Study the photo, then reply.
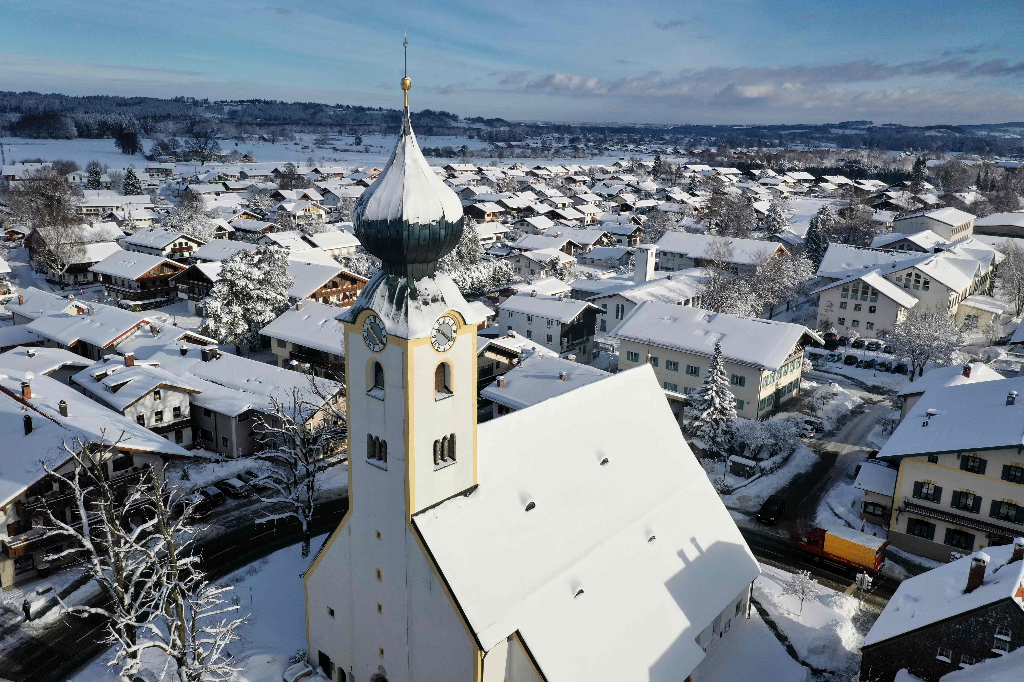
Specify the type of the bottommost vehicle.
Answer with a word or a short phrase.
truck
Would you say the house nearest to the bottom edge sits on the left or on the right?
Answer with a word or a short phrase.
right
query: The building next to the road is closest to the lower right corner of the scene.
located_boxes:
[859,525,1024,682]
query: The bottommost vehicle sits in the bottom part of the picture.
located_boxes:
[796,522,898,572]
